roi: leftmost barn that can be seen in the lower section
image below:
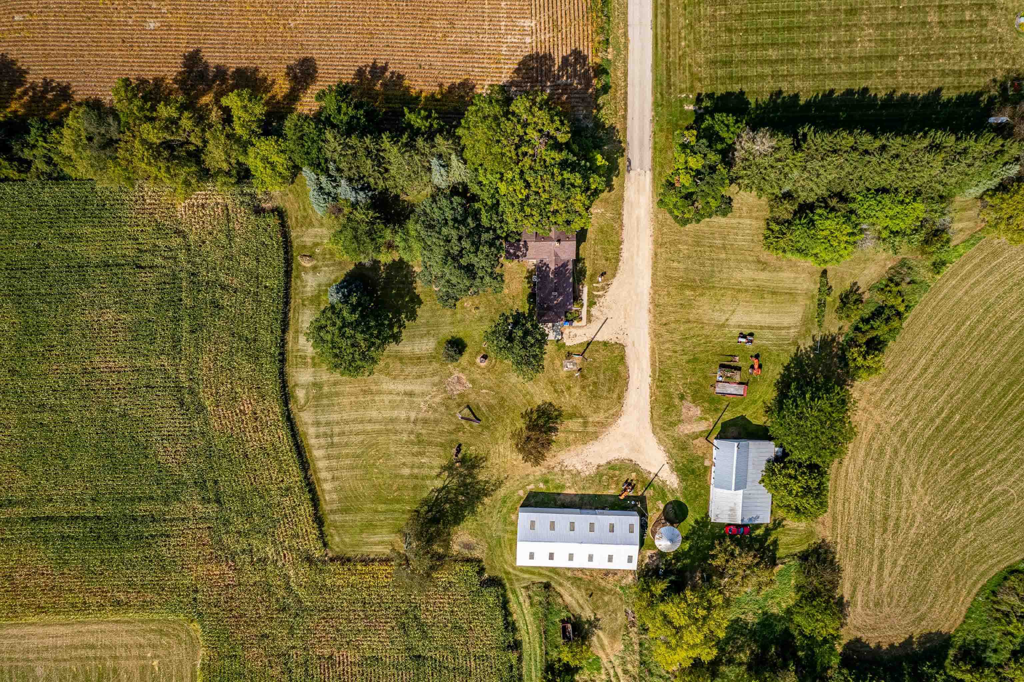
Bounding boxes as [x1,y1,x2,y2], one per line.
[516,508,640,570]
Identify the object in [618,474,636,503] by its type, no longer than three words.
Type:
work vehicle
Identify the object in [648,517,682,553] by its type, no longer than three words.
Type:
silo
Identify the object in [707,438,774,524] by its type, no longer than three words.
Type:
shed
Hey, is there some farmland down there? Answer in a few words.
Yes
